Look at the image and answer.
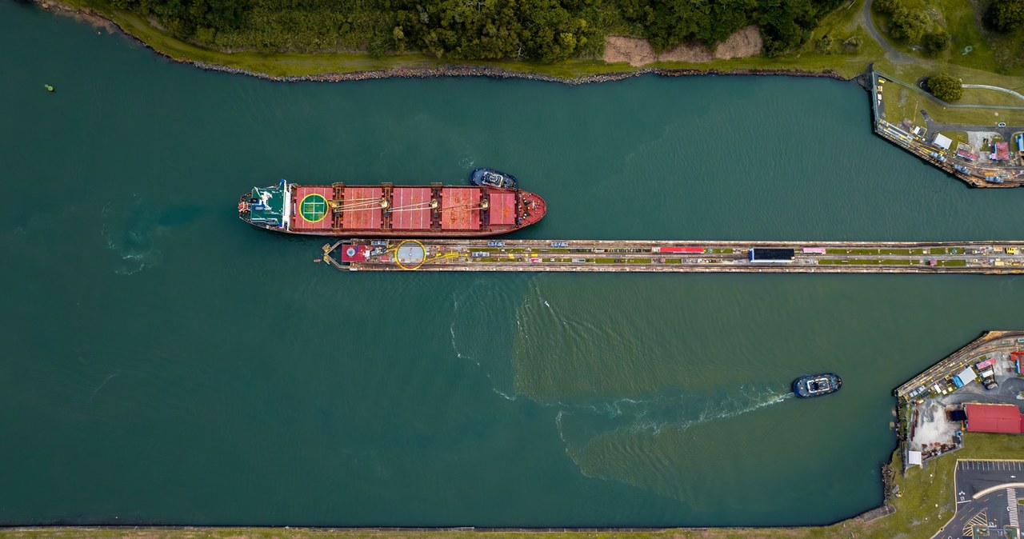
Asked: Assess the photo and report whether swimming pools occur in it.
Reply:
No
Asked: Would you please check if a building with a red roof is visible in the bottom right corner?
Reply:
Yes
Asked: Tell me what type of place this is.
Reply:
port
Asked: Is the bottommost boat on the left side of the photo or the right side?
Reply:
right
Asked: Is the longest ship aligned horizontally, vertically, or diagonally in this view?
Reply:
horizontally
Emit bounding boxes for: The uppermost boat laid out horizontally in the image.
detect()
[470,166,519,188]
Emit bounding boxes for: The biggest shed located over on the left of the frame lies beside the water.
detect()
[342,244,367,262]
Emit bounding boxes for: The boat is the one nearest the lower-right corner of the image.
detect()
[792,374,844,398]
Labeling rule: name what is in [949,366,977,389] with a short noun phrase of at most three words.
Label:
building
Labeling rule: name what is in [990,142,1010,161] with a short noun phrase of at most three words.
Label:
house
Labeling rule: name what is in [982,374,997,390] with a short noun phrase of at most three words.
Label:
vehicle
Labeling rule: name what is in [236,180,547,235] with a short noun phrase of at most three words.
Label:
ship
